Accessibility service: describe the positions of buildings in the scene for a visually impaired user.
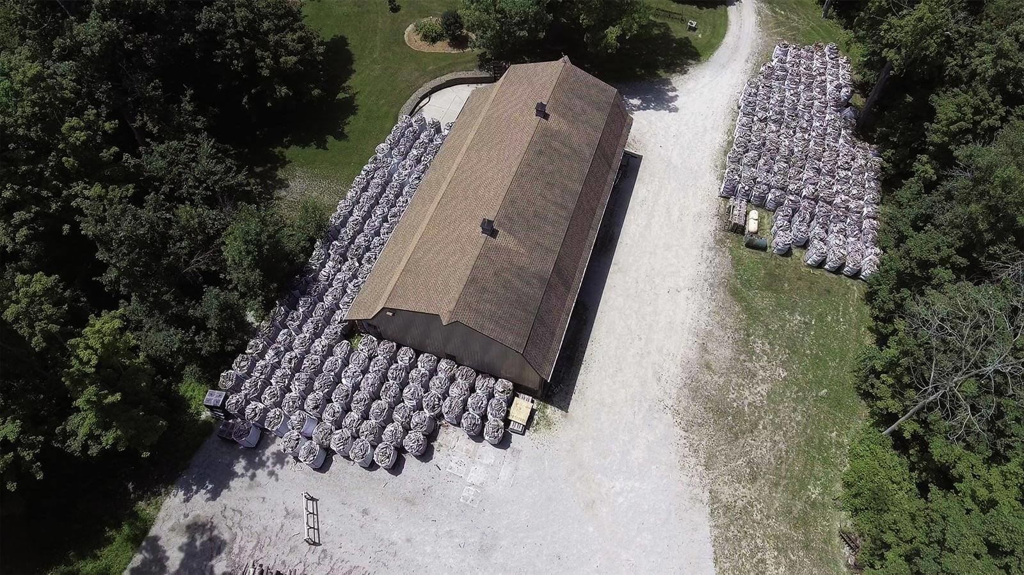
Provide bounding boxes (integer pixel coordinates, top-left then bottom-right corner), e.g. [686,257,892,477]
[343,47,634,393]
